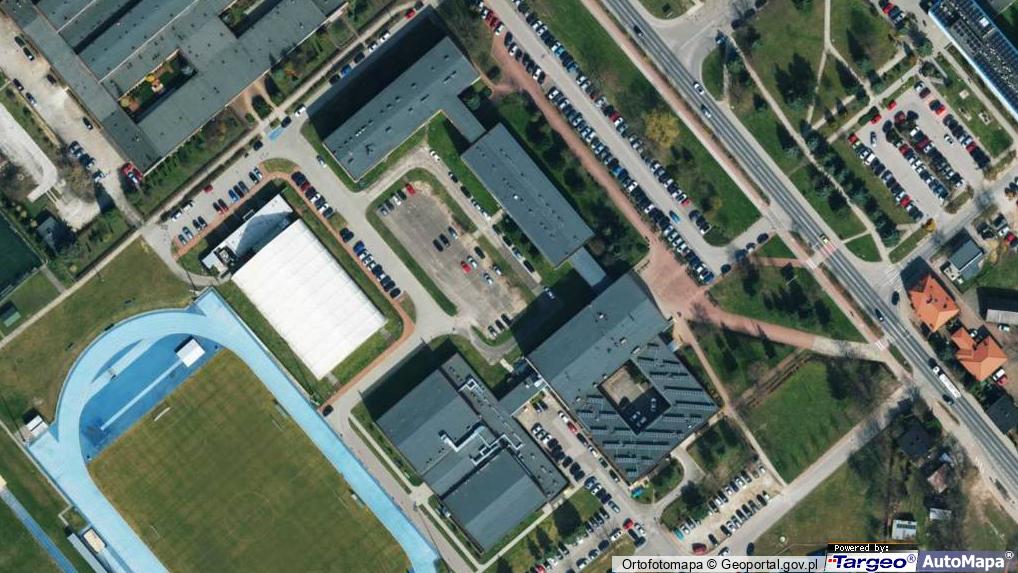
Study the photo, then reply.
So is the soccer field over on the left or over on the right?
left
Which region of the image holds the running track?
bottom left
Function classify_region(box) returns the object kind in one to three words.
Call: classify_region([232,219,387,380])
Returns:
building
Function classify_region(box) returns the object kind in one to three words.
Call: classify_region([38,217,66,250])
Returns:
house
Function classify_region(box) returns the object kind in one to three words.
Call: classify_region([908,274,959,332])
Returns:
house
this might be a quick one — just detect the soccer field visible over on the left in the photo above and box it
[85,347,412,573]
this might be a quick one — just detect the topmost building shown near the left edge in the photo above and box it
[0,0,352,173]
